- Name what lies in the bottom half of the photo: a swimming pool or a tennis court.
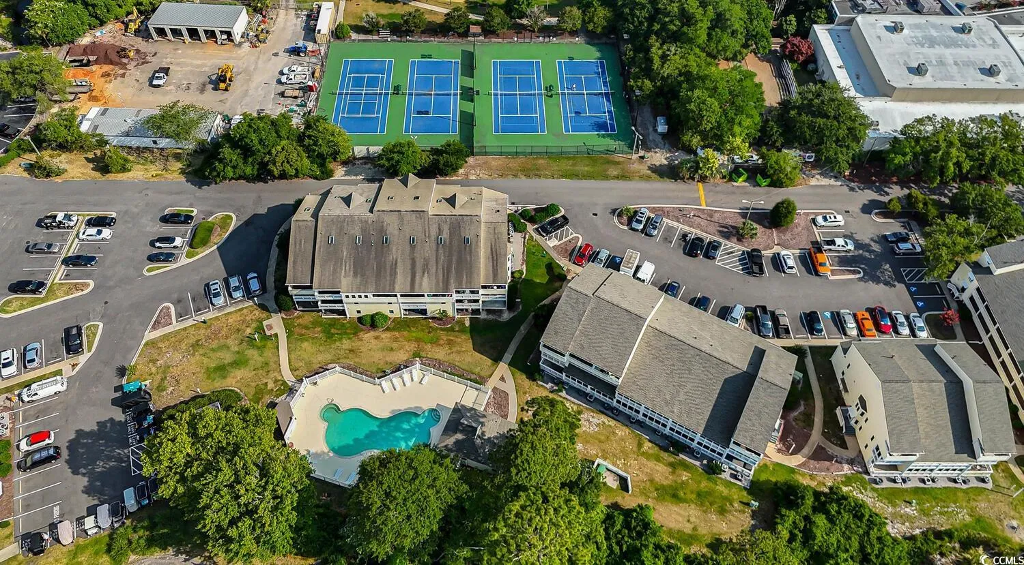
swimming pool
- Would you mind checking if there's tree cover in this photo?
Yes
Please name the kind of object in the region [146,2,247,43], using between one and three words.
building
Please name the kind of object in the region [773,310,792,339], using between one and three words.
vehicle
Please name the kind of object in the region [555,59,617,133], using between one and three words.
tennis court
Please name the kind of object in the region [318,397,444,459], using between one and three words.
swimming pool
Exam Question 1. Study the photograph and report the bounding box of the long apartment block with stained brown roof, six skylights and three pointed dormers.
[286,173,512,323]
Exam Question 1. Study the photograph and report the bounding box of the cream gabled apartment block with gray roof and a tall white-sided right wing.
[830,340,1015,477]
